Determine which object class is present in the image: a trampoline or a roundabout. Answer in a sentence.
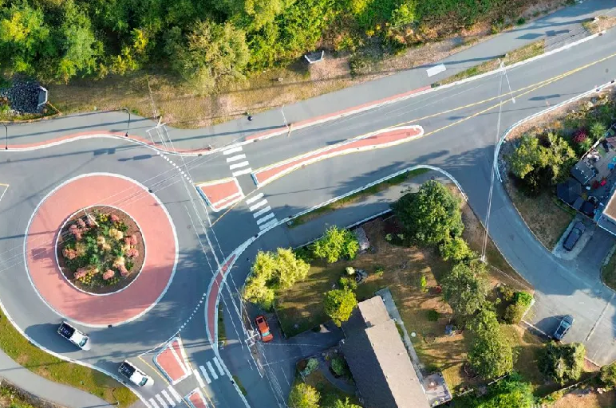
Of the two, only a roundabout appears.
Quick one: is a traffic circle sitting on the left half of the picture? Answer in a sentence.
Yes, there is a traffic circle on the left half of the picture.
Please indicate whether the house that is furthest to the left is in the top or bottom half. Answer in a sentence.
Seen from above, the house that is furthest to the left lies in the bottom half of the view.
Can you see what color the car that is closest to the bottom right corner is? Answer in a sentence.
The car that is closest to the bottom right corner is blue.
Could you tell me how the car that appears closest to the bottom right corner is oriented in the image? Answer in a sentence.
In this picture, the car that appears closest to the bottom right corner is oriented on a diagonal.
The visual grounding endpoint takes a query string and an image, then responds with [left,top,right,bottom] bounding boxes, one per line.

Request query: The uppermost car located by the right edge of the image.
[564,221,587,251]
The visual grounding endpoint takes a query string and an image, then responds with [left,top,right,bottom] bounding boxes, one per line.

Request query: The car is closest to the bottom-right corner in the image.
[552,314,575,341]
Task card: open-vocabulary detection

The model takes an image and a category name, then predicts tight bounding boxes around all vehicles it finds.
[564,221,587,251]
[254,314,272,343]
[552,314,575,341]
[56,320,91,351]
[117,359,153,387]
